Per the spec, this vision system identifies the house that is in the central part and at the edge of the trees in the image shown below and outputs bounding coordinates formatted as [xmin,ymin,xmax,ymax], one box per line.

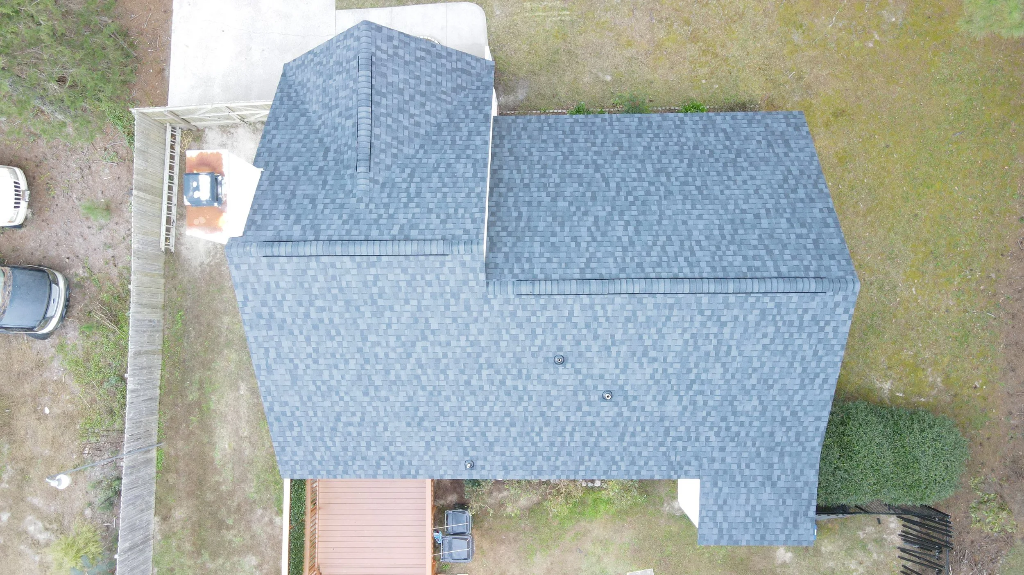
[183,20,861,547]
